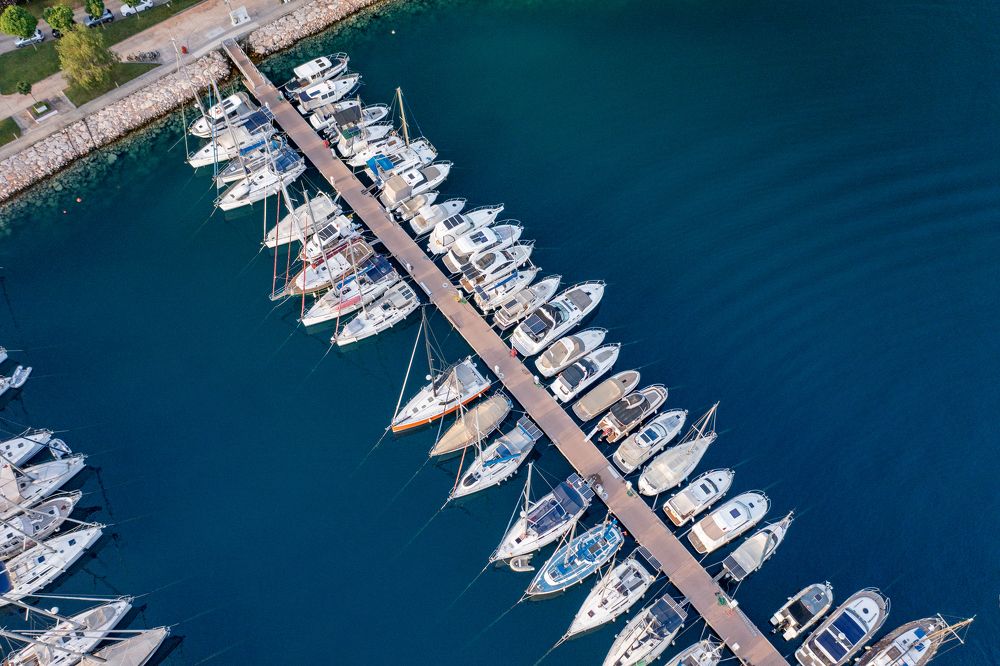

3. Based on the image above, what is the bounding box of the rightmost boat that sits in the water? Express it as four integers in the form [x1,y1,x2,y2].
[848,615,973,666]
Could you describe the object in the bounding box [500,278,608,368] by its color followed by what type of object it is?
white boat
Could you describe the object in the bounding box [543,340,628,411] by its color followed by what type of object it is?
white boat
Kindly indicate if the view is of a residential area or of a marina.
marina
